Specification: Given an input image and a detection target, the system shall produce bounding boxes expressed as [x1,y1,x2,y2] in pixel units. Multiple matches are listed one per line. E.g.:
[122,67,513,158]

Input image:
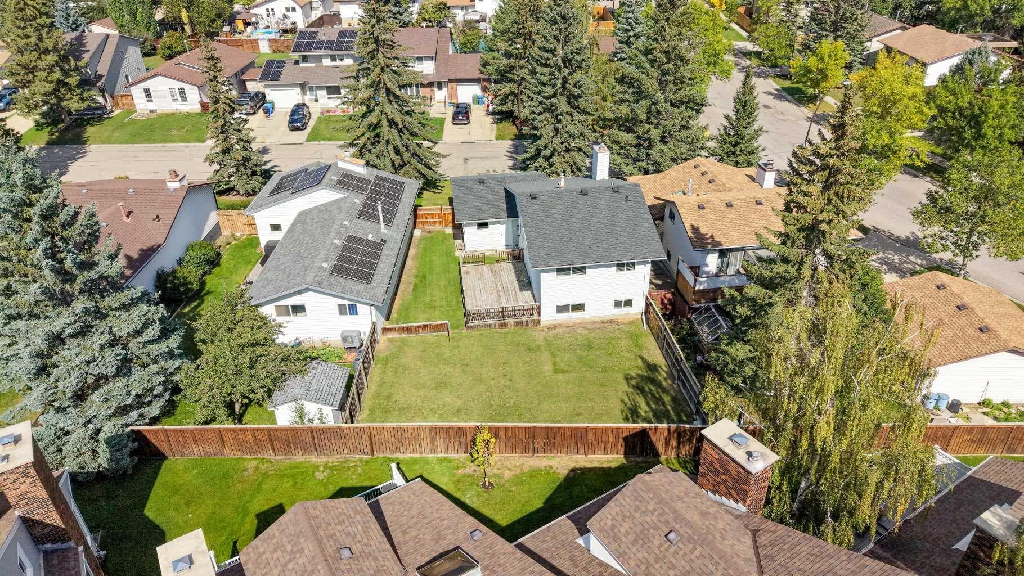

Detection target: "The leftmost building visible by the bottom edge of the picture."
[0,420,113,576]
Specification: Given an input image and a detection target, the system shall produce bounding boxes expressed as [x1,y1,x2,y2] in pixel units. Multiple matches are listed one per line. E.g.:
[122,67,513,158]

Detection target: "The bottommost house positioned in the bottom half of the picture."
[151,526,219,576]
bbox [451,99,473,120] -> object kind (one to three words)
car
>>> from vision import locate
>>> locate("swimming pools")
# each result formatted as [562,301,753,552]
[244,30,279,44]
